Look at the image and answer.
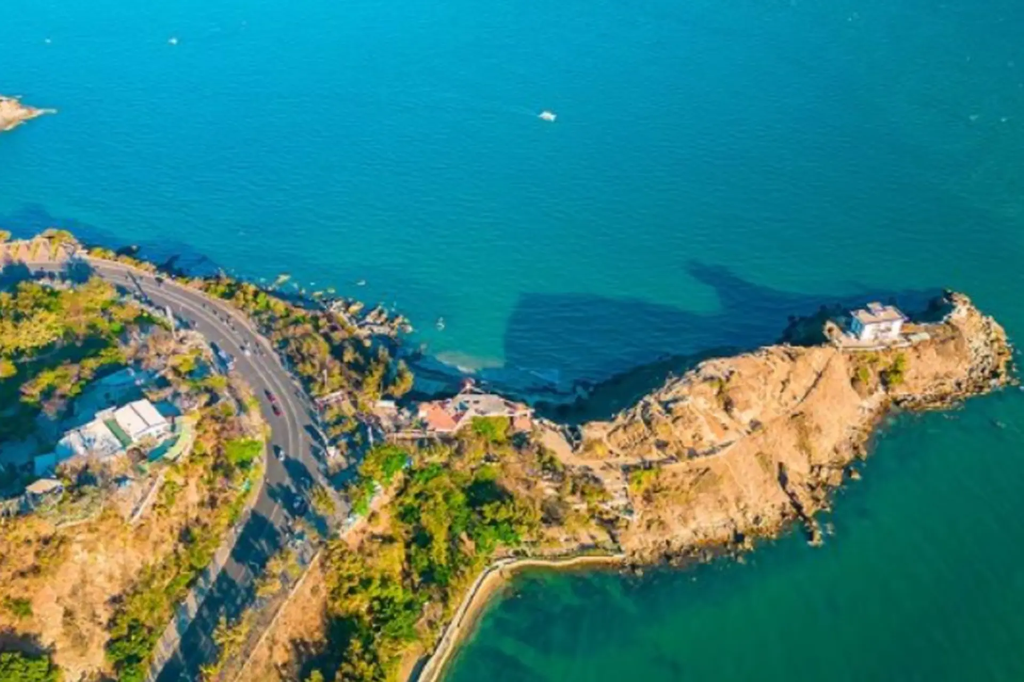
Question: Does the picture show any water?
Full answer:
Yes, the picture does contain water.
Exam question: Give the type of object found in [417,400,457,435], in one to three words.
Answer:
building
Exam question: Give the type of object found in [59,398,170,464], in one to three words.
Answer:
house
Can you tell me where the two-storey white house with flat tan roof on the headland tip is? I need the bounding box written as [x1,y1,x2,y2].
[839,303,914,348]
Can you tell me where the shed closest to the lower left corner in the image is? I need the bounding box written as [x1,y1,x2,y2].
[26,479,66,500]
